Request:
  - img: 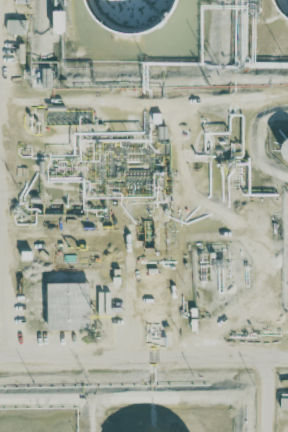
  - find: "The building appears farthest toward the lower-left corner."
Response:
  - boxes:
[48,282,90,330]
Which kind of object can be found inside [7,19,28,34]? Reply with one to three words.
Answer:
shed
